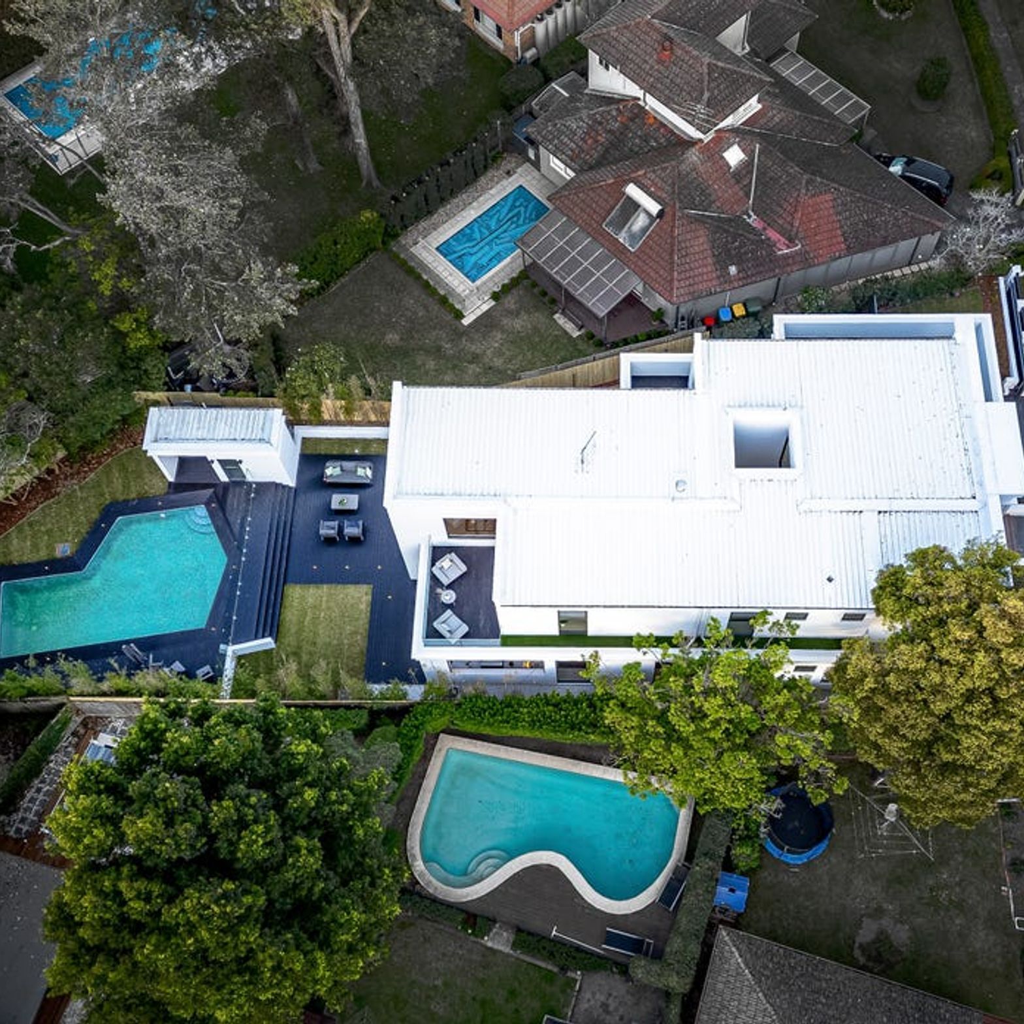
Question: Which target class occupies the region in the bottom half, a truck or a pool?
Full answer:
The feature located in the bottom half is a pool.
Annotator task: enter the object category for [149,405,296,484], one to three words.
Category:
building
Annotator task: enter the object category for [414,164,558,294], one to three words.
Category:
swimming pool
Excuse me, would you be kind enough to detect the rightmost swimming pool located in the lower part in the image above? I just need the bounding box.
[407,738,694,914]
